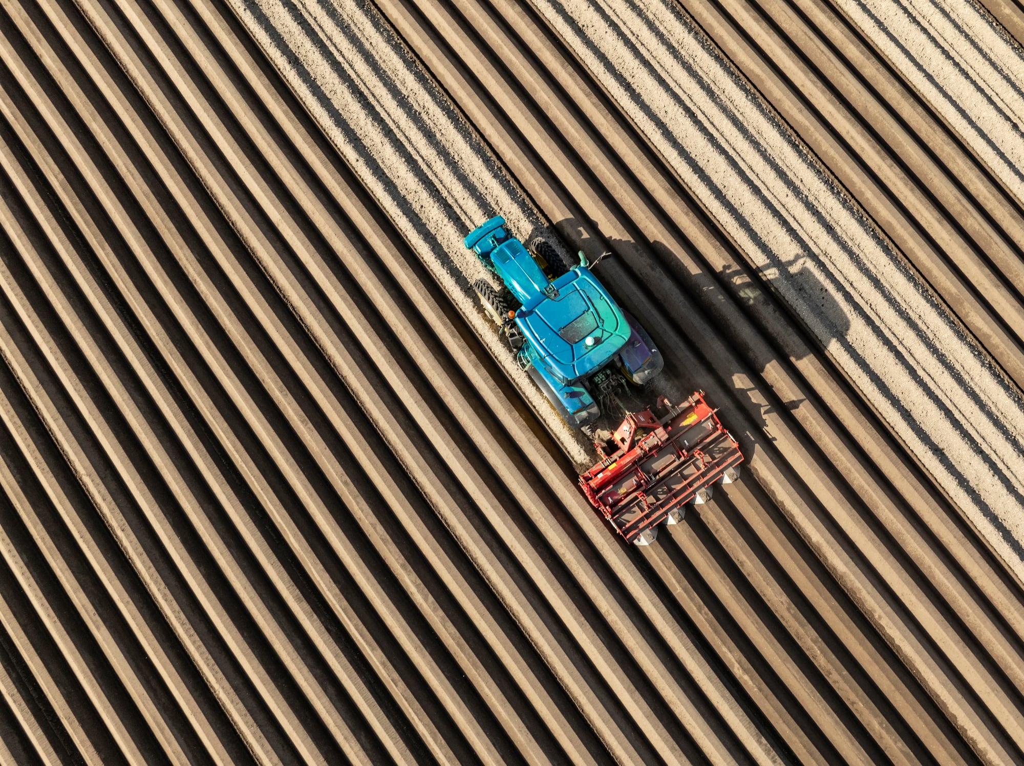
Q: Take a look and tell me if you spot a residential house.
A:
No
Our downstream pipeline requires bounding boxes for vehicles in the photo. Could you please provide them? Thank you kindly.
[465,218,660,436]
